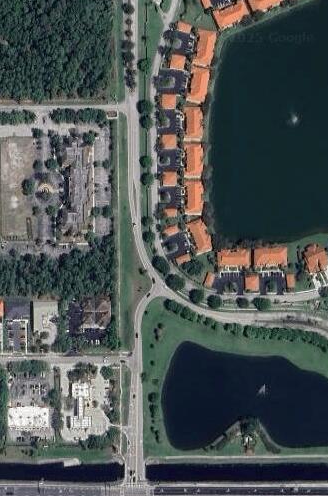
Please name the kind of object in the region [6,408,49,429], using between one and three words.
building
